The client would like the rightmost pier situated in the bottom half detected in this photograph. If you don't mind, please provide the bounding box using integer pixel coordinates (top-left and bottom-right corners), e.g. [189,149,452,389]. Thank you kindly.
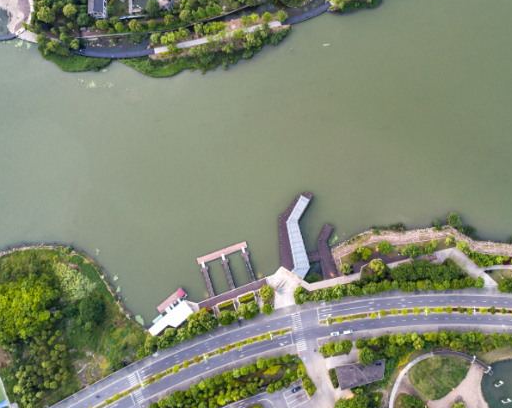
[308,223,339,279]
